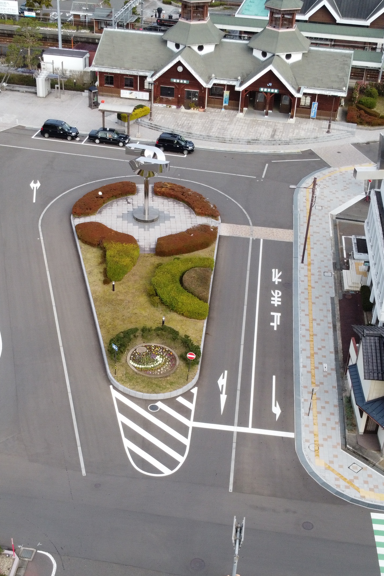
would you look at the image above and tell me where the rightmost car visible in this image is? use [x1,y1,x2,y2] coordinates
[155,129,197,152]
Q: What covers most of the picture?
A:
paved ground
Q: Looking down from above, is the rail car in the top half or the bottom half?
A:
top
